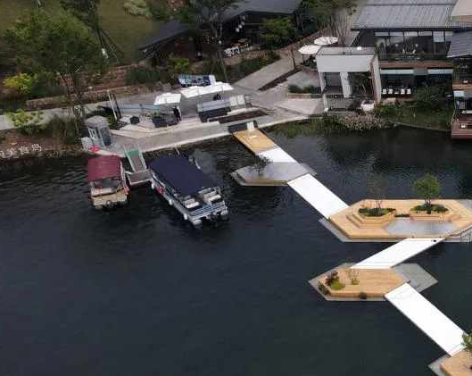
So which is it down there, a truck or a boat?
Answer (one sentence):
The image shows a boat.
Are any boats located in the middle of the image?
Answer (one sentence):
Yes, the scene does show a boat in the middle of the image.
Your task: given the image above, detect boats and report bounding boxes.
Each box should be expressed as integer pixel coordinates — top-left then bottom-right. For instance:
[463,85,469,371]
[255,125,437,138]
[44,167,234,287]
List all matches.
[144,148,229,232]
[79,151,128,211]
